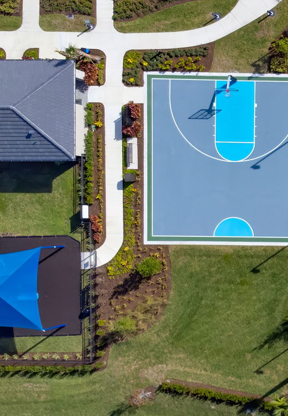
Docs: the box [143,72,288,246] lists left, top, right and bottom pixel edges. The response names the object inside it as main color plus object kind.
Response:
blue basketball court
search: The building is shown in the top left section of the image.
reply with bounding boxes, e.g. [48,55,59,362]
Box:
[0,59,87,161]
